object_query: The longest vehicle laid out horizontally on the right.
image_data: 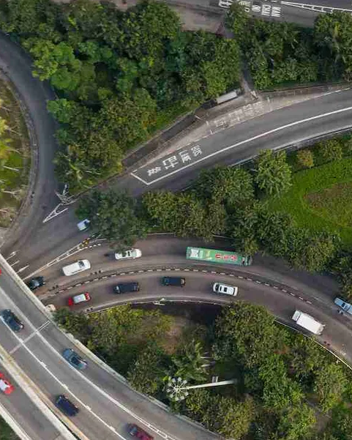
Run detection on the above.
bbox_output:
[186,246,256,270]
